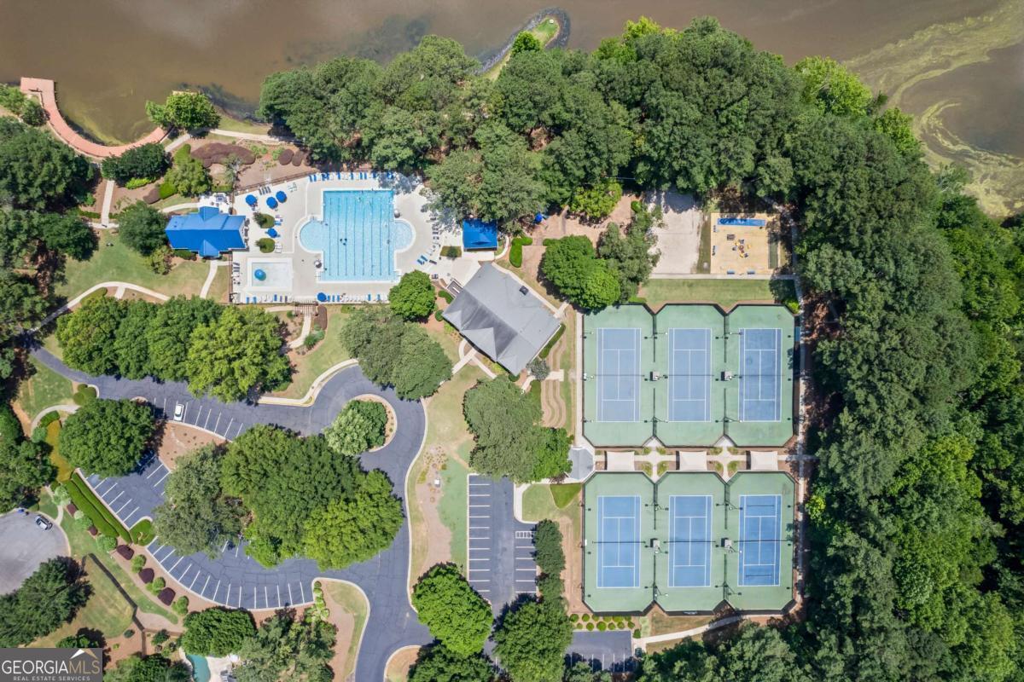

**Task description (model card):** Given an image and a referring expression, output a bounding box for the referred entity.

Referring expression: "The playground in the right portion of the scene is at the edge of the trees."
[711,213,769,274]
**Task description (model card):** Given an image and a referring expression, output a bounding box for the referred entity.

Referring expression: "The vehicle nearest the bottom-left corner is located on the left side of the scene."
[32,514,52,531]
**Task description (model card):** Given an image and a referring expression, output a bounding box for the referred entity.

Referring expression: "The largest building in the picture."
[442,260,561,376]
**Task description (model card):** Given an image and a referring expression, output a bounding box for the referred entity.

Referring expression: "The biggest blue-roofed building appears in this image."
[164,205,248,257]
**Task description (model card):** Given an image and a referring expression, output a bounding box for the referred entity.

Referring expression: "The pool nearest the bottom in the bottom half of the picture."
[185,651,211,682]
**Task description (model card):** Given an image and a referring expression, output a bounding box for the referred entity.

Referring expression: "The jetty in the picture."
[18,75,167,158]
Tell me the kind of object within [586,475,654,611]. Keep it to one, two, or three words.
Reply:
tennis court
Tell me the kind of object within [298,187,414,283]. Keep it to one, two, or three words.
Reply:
swimming pool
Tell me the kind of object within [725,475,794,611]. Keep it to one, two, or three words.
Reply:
tennis court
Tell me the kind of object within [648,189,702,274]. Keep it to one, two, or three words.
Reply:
sports court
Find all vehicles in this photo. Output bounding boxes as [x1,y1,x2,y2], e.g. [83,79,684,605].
[32,514,52,531]
[172,402,184,421]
